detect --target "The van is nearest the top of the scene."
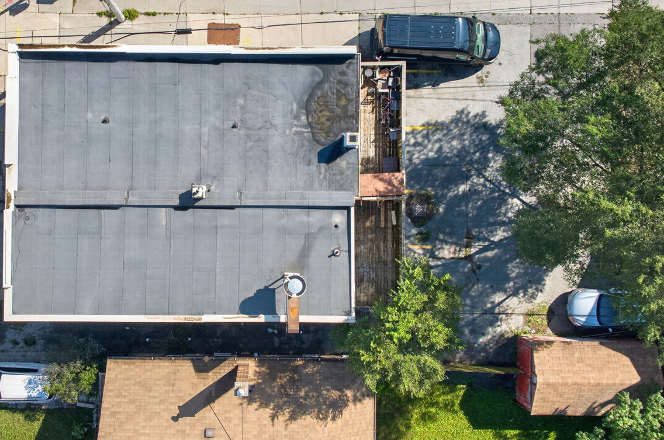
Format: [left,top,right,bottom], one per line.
[368,18,498,68]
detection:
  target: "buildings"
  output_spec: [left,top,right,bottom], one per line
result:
[4,44,360,322]
[518,333,664,415]
[89,350,378,440]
